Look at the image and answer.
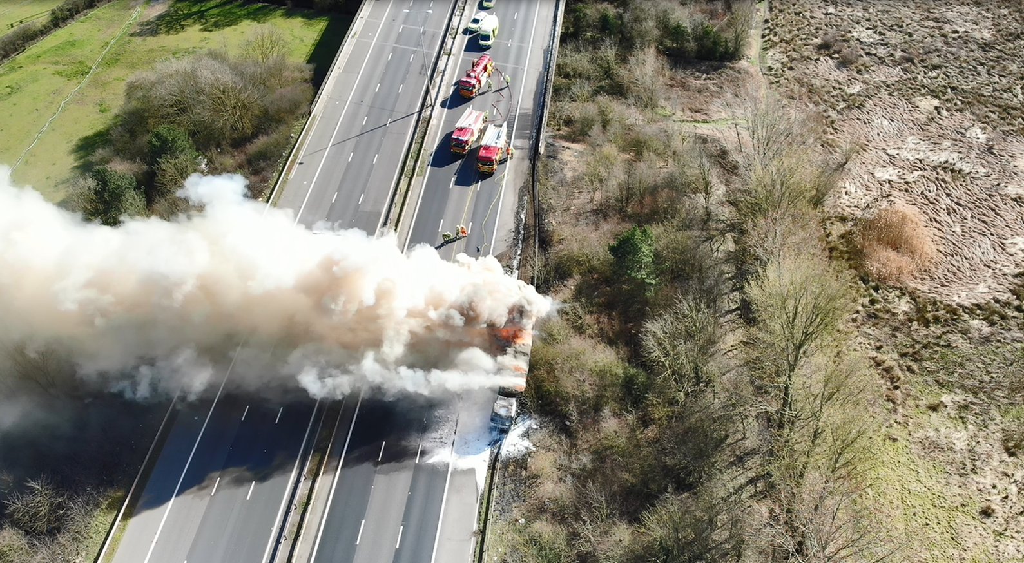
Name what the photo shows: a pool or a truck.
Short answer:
truck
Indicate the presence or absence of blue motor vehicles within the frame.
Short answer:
No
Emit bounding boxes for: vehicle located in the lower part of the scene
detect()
[485,304,537,438]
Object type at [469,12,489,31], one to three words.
car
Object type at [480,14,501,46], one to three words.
vehicle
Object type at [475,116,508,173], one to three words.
truck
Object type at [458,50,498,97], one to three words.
truck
